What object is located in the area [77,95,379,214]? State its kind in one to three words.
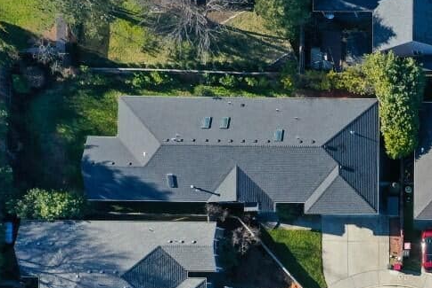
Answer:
house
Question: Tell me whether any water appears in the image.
No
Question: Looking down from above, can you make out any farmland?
No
